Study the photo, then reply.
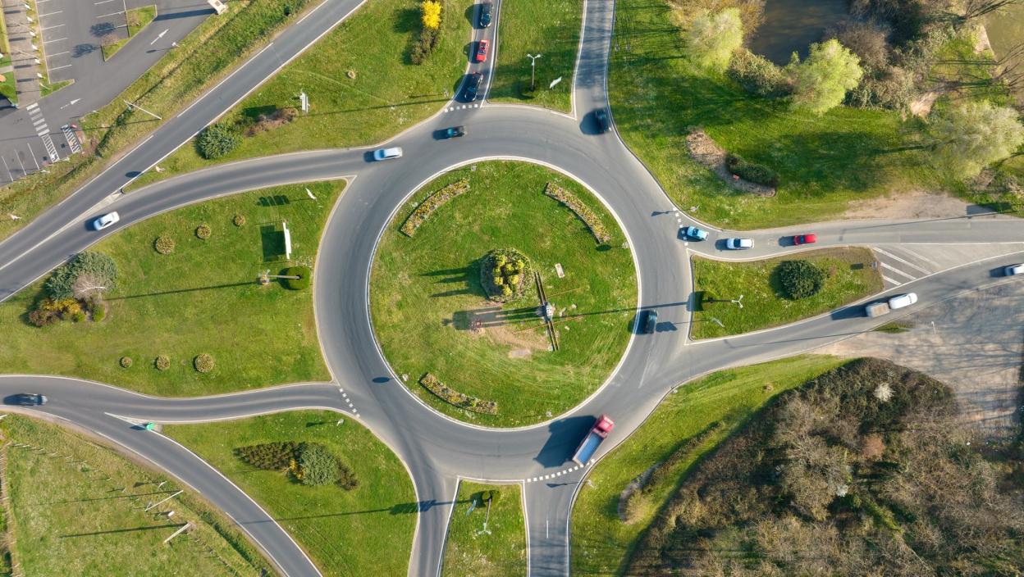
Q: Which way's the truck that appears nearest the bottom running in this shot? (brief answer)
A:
diagonally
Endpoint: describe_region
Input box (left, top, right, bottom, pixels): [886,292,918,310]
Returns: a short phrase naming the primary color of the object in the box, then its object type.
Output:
white car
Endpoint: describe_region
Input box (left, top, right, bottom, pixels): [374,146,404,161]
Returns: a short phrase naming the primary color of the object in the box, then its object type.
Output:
white car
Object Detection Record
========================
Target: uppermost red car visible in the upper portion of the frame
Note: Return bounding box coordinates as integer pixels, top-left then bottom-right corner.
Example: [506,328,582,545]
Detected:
[476,38,489,64]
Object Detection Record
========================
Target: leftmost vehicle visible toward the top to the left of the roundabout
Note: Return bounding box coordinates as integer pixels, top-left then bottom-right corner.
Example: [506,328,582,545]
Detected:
[92,209,122,232]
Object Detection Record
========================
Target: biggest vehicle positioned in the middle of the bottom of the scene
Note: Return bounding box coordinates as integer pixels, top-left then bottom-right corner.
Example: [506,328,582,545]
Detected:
[571,413,617,470]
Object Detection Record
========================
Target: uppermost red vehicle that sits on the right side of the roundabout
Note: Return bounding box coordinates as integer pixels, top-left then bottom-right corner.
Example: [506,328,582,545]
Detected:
[791,233,818,247]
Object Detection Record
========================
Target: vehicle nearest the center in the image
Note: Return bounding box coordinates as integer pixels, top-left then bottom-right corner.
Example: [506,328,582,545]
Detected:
[643,308,658,334]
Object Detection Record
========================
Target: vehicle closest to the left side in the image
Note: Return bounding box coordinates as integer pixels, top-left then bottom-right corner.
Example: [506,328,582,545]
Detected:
[19,392,49,407]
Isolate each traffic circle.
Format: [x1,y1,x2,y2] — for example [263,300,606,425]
[315,104,693,483]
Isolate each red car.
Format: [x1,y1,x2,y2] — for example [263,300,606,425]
[476,38,489,64]
[791,233,818,247]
